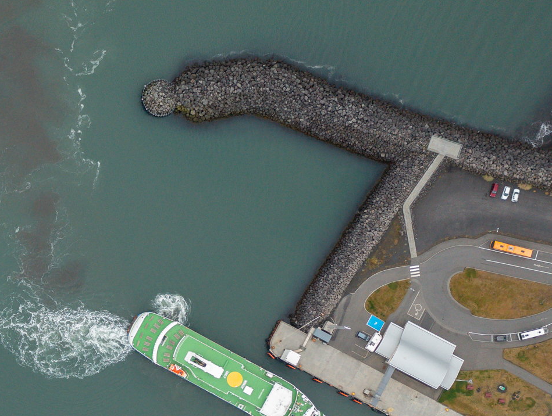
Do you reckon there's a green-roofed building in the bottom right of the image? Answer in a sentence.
No, I can find no green-roofed building in the bottom right of the image.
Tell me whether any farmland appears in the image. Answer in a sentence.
No, the scene doesn't show any farmland.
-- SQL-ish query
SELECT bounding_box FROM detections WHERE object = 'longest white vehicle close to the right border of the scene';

[517,327,550,341]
